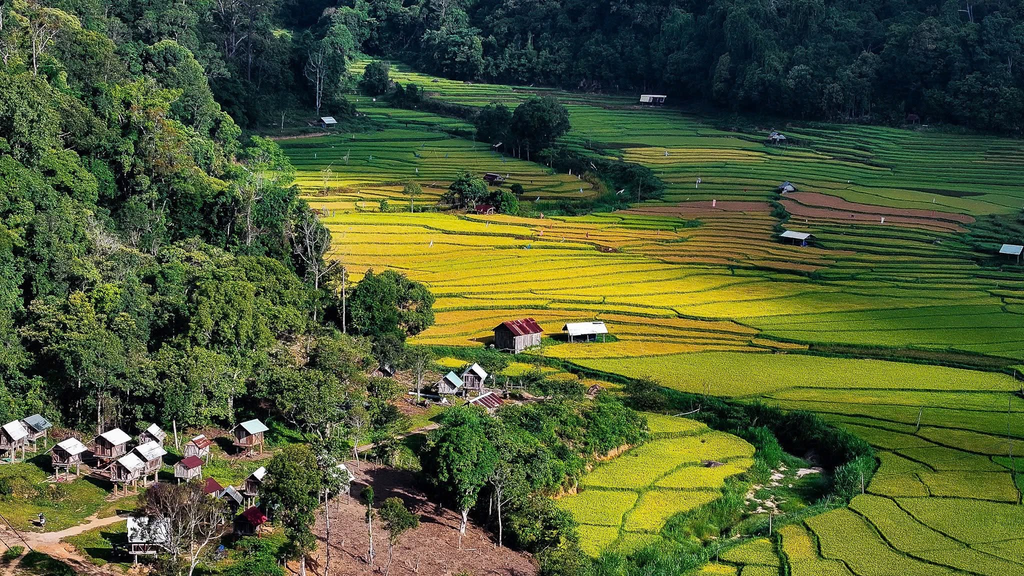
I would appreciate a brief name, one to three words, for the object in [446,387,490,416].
shed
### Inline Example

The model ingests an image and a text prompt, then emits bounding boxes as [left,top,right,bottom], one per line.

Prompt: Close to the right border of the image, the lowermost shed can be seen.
[989,240,1020,263]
